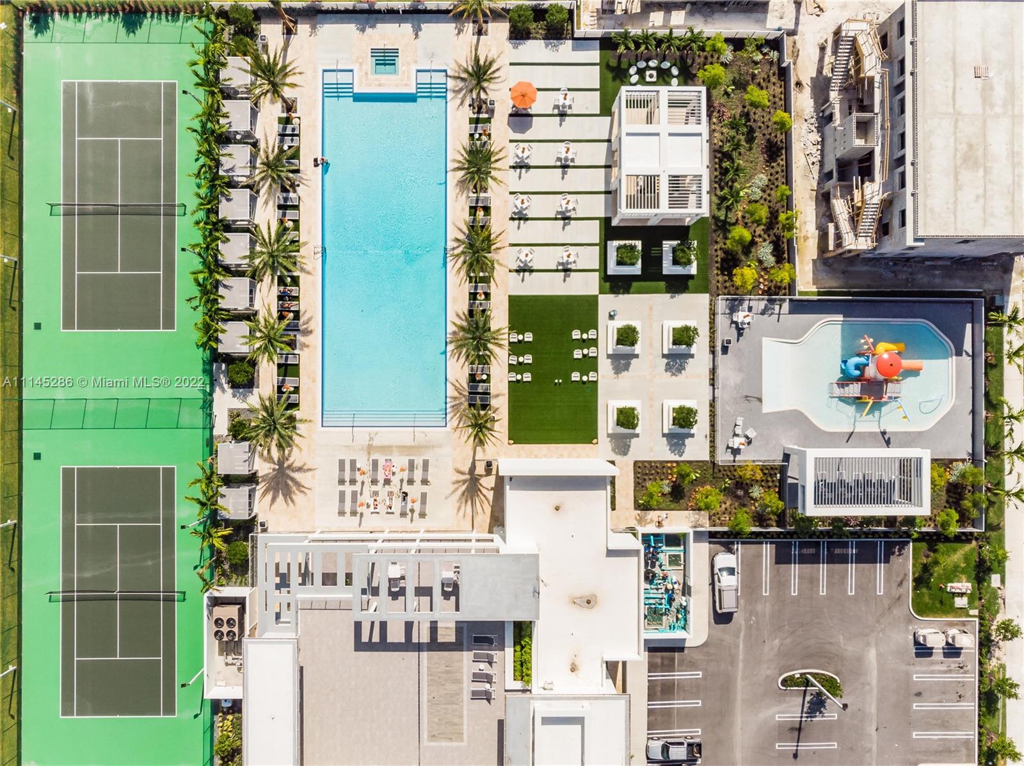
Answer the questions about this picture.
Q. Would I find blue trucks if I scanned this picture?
No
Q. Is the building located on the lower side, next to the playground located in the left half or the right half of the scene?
right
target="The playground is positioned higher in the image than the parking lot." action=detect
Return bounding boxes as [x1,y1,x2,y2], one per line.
[820,335,927,421]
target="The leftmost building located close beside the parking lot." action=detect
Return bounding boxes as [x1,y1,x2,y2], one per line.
[243,460,643,766]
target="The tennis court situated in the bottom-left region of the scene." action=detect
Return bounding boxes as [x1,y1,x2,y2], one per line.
[23,414,212,766]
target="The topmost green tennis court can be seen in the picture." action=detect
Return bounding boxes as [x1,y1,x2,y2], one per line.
[23,11,212,414]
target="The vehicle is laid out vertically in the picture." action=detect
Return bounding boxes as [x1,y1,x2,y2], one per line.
[712,553,740,615]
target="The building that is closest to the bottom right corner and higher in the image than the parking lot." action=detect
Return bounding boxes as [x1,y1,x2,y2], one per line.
[782,445,930,515]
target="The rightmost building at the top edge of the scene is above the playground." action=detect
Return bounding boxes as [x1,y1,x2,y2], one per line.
[816,0,1024,262]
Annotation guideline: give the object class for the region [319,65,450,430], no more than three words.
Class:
swimming pool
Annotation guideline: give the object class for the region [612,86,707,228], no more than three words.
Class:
building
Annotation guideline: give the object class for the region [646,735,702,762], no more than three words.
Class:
truck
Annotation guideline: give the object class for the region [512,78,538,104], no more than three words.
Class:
umbrella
